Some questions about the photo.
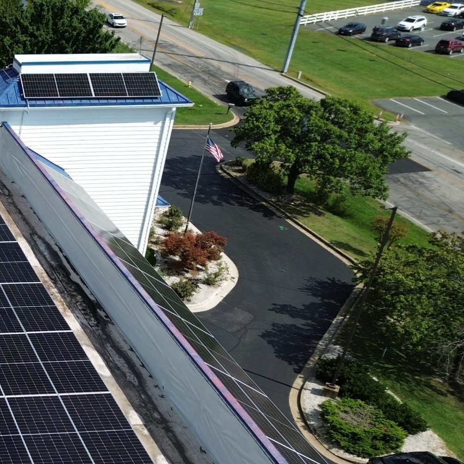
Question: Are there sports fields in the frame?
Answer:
No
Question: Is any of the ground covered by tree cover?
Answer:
Yes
